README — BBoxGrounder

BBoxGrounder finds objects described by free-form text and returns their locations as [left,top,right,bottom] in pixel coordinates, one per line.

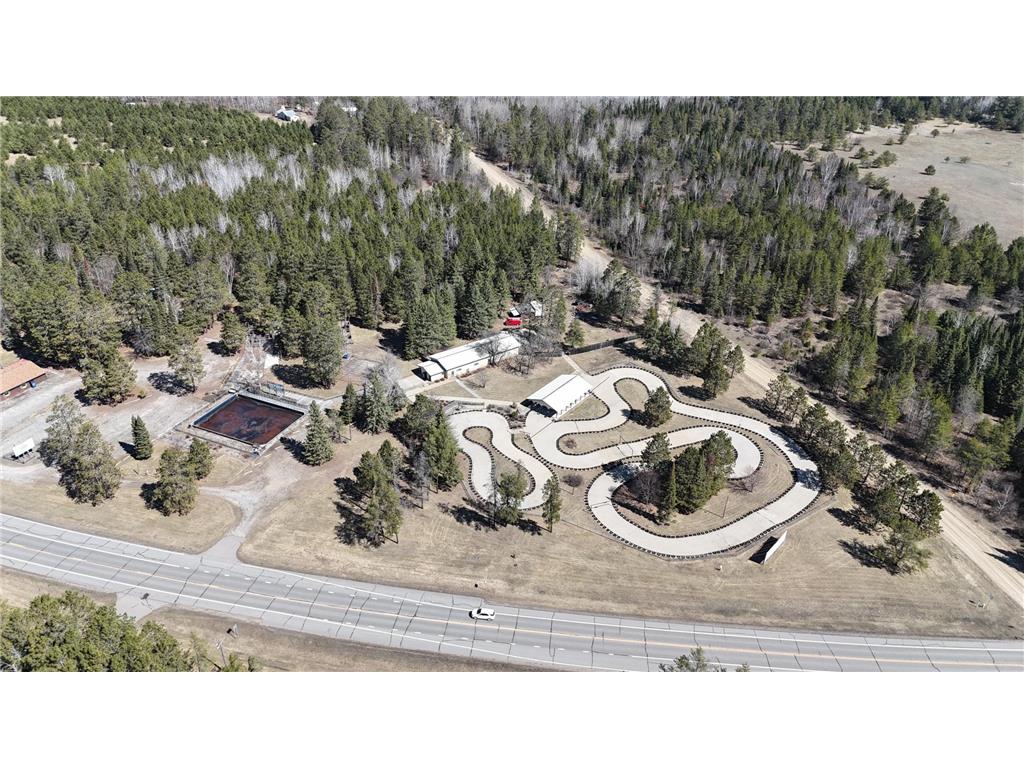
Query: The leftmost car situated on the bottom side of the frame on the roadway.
[471,608,495,621]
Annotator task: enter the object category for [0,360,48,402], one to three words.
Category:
building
